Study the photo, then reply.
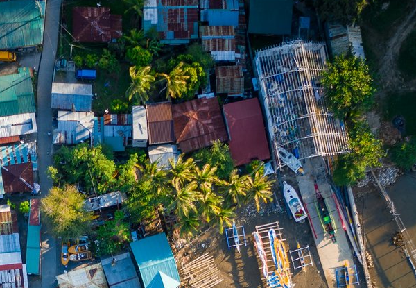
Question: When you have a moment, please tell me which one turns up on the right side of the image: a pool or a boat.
boat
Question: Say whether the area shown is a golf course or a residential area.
residential area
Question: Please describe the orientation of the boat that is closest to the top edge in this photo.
on a diagonal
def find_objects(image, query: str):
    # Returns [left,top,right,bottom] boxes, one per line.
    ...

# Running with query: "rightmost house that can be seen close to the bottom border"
[130,232,180,288]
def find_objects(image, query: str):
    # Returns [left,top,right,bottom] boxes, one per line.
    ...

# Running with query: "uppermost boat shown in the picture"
[277,147,306,177]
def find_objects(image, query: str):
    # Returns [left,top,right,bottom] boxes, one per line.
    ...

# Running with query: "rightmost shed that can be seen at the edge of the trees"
[328,25,365,63]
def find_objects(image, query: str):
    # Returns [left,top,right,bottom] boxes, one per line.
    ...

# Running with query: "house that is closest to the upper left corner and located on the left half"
[0,0,46,54]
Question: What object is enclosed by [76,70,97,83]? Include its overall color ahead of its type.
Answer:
blue vehicle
